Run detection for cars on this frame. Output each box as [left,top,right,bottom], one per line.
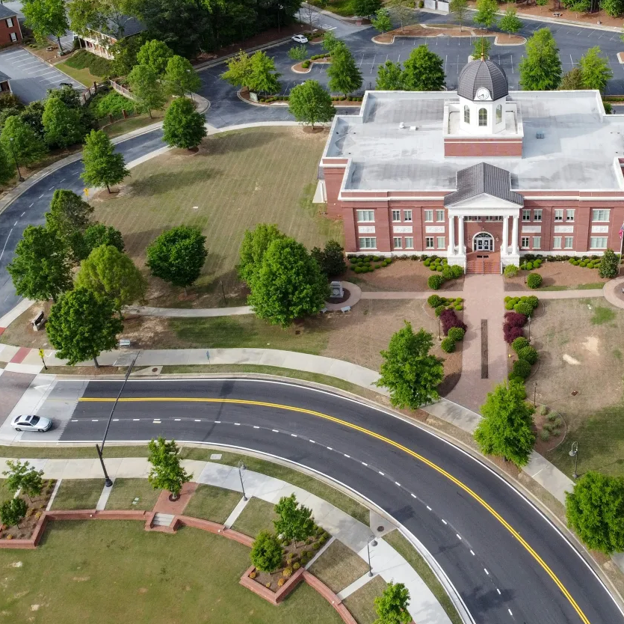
[291,34,307,44]
[5,412,54,432]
